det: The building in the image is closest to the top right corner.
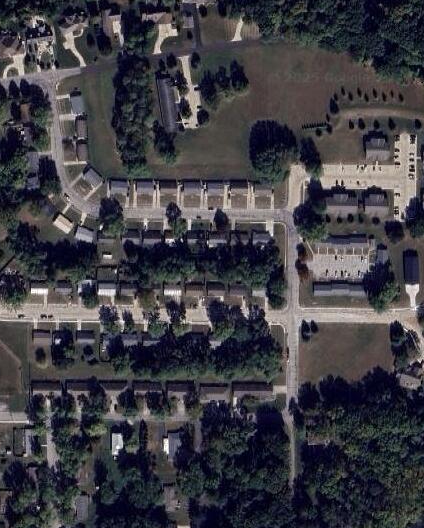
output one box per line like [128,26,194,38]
[366,139,391,159]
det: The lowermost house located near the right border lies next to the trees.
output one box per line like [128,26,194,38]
[399,367,424,389]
